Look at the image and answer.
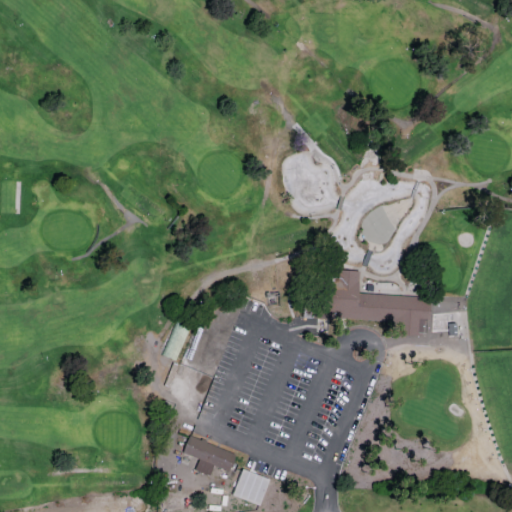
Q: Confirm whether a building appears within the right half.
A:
Yes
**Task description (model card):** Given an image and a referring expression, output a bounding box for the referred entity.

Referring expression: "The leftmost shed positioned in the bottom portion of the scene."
[162,321,190,360]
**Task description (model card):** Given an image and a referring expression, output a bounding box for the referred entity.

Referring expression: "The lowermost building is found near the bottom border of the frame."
[231,469,270,506]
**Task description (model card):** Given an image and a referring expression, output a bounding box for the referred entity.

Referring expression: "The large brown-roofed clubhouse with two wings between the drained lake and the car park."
[330,270,434,338]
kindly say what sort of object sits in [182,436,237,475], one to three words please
house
